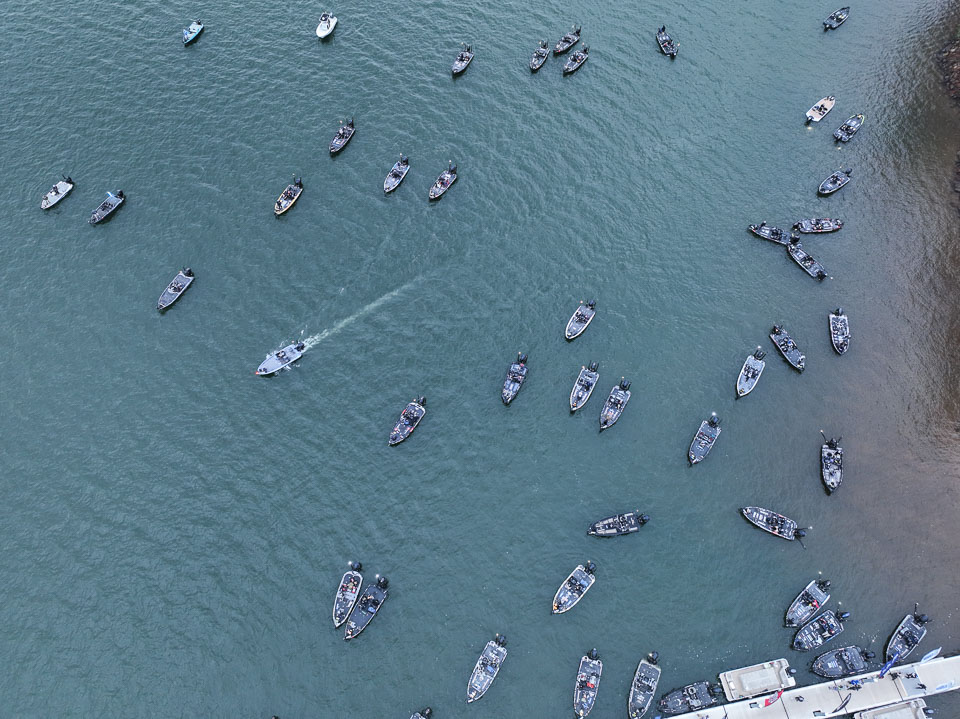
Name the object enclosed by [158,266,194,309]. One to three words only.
boat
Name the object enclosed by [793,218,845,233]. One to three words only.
boat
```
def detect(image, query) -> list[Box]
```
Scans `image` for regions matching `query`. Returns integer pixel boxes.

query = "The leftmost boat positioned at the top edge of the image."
[184,17,203,41]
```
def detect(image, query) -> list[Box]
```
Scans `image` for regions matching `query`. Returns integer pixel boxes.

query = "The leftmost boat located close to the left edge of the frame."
[40,175,73,209]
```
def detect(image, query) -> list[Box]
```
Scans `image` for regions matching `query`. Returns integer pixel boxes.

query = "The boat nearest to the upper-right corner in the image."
[823,6,850,30]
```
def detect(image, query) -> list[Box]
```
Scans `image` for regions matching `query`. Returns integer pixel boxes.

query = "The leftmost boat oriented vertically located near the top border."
[318,11,335,42]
